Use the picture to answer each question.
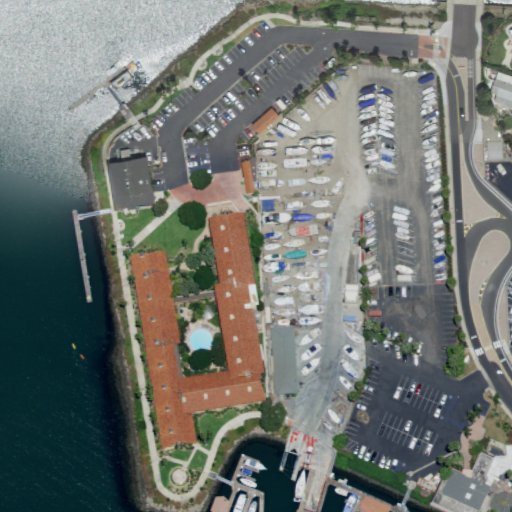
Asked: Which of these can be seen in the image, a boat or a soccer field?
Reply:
boat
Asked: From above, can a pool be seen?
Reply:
Yes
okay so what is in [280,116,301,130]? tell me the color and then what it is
white boat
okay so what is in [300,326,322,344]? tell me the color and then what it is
white boat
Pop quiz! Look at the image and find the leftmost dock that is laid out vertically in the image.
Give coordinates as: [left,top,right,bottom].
[73,210,92,302]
